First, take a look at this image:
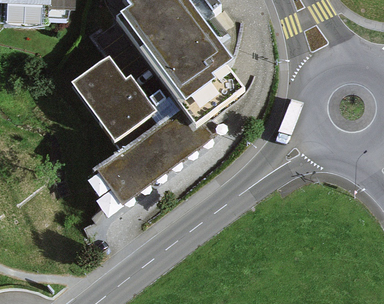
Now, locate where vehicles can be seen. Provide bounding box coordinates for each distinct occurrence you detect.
[274,99,303,146]
[92,236,113,254]
[135,70,154,87]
